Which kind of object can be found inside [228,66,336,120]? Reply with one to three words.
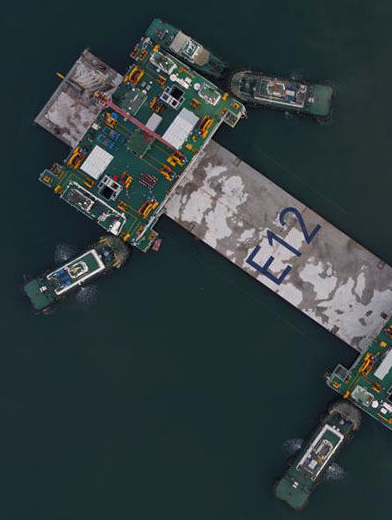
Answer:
boat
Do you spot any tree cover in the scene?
No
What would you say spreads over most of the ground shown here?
water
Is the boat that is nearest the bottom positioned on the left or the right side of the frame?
right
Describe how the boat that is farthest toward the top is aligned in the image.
on a diagonal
